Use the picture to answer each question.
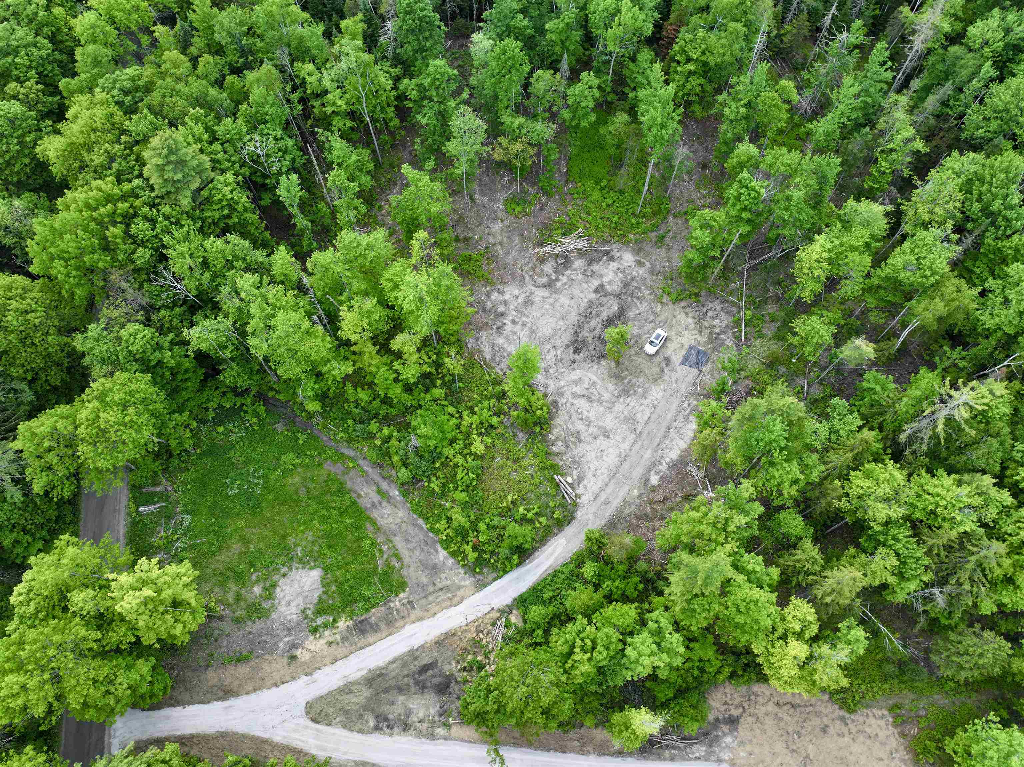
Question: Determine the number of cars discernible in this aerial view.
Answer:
one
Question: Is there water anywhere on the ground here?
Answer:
No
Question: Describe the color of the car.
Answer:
white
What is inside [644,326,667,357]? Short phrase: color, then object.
white car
